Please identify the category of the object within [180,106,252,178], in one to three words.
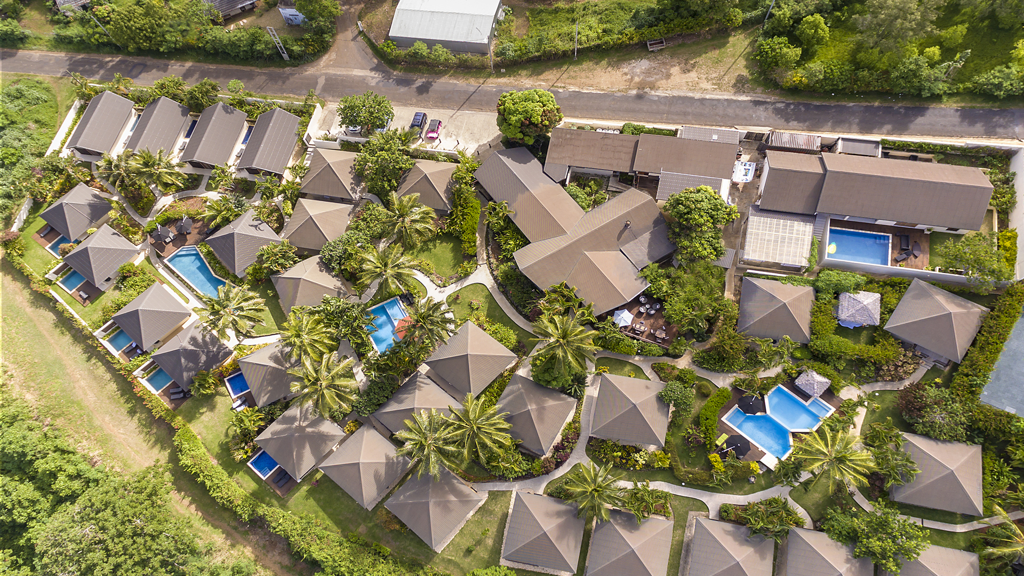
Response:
house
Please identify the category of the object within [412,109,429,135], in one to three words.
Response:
car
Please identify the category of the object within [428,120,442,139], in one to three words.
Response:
car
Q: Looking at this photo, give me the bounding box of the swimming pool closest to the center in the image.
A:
[363,293,413,355]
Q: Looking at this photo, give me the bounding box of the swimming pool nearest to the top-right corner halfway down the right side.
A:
[818,226,892,265]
